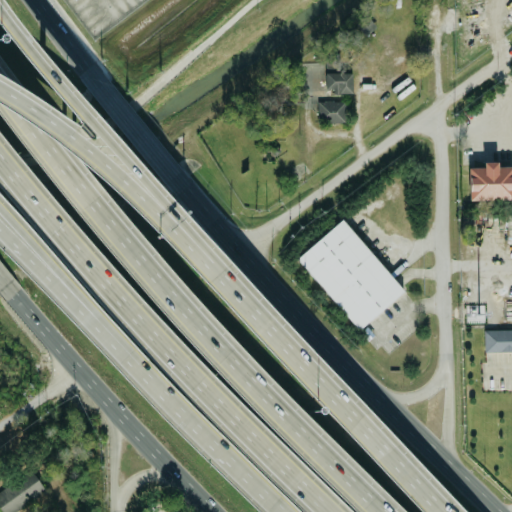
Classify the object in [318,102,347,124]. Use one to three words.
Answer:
house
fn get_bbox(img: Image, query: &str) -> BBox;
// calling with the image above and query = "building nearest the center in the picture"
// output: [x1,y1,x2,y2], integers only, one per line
[298,220,406,328]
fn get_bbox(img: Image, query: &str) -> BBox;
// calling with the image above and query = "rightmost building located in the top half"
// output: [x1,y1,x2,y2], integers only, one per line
[469,163,512,202]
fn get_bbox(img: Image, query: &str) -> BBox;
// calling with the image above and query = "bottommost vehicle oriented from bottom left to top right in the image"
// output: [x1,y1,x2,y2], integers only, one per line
[392,263,409,278]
